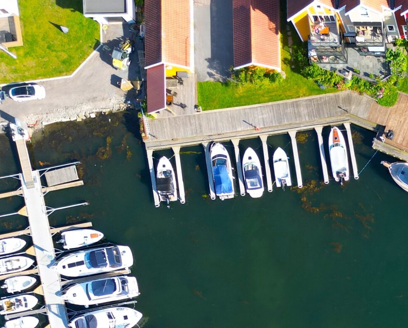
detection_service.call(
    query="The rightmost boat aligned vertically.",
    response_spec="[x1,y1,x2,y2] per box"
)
[321,127,349,188]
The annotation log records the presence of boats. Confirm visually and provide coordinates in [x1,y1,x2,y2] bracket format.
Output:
[67,305,140,328]
[1,318,40,328]
[47,243,142,280]
[53,274,143,310]
[153,154,179,206]
[0,239,27,256]
[208,139,237,203]
[243,148,267,201]
[0,296,38,316]
[0,258,35,276]
[0,277,37,294]
[54,229,104,249]
[321,127,349,188]
[273,145,292,194]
